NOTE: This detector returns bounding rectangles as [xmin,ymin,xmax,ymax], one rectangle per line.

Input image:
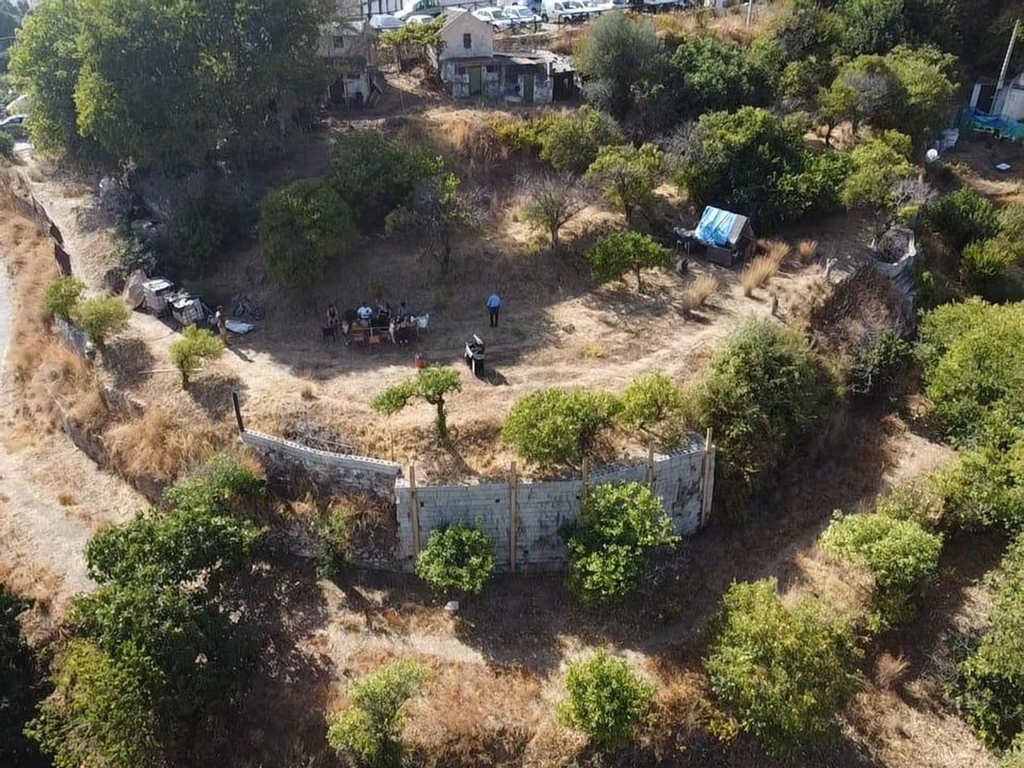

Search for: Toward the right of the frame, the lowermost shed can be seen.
[693,212,762,273]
